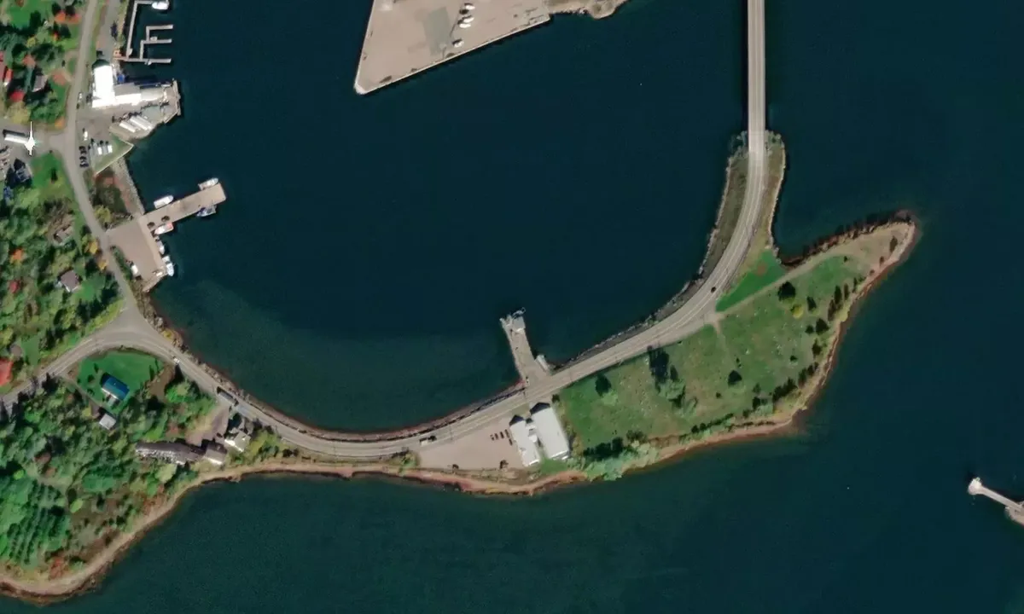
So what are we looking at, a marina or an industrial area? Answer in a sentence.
This looks like a marina.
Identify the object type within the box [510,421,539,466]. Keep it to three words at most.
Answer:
building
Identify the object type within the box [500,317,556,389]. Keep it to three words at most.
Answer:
pier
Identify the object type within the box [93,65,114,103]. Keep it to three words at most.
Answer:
shed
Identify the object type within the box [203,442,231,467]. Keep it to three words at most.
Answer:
house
